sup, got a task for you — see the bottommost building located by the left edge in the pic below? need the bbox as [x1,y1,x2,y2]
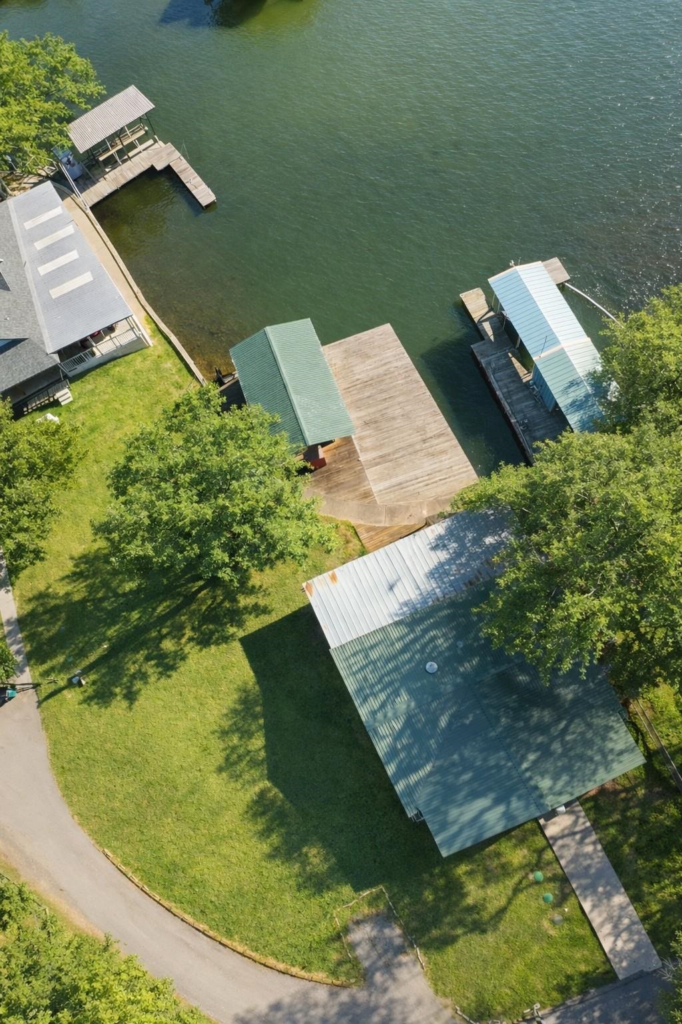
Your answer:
[0,172,153,401]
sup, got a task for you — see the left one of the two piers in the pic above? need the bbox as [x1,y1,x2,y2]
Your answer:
[76,142,217,217]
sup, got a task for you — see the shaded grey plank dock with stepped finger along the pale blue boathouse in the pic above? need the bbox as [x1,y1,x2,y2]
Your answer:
[459,287,574,458]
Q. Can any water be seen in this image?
Yes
